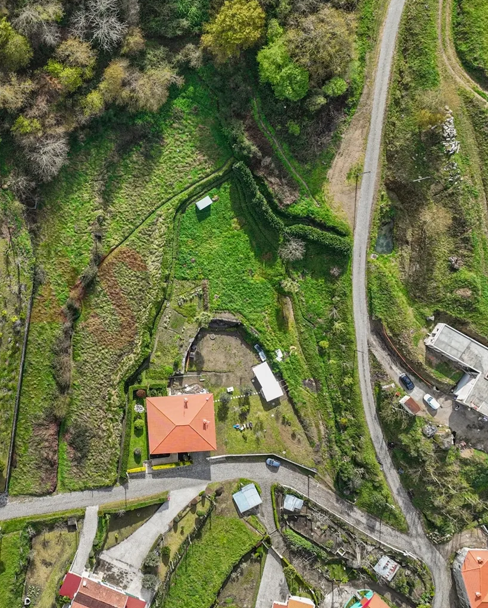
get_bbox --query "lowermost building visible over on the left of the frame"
[59,569,146,608]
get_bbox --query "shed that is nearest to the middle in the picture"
[251,362,287,401]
